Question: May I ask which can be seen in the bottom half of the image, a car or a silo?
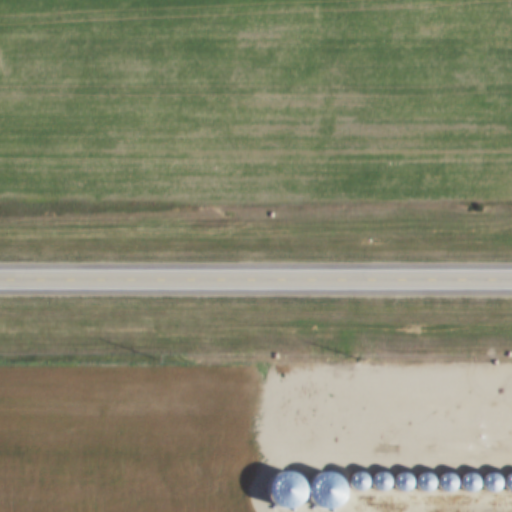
silo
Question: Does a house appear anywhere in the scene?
No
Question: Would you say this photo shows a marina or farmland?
farmland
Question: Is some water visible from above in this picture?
No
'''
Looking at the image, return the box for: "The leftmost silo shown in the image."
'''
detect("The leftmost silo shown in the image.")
[270,470,310,512]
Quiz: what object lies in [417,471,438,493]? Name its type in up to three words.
silo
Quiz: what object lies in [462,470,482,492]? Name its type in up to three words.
silo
